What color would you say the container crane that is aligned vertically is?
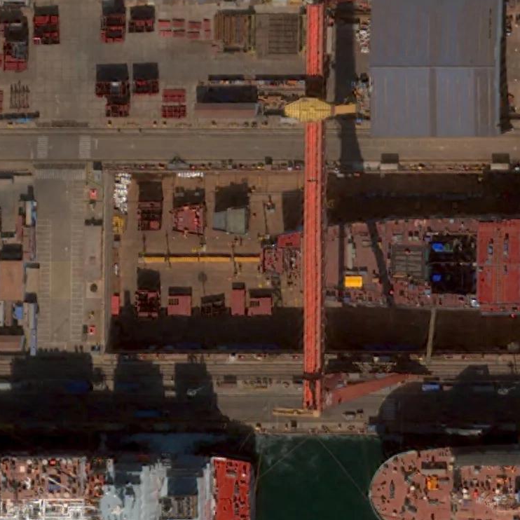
red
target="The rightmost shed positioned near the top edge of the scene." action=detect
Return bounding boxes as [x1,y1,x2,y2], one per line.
[368,0,511,137]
